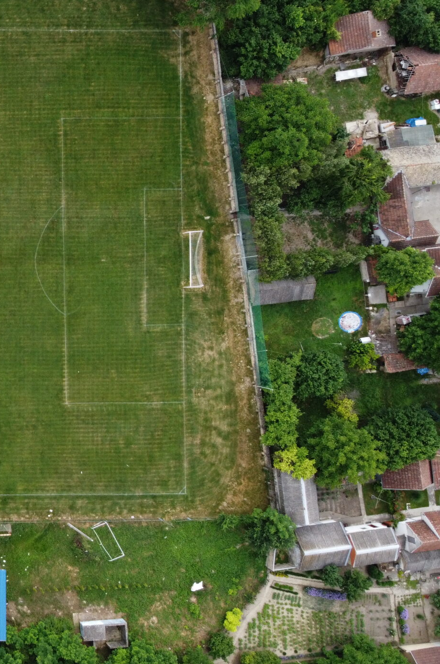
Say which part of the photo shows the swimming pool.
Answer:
right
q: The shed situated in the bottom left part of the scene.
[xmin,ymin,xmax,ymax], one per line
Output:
[75,615,128,647]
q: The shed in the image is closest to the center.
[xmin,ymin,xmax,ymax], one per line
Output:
[249,276,316,306]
